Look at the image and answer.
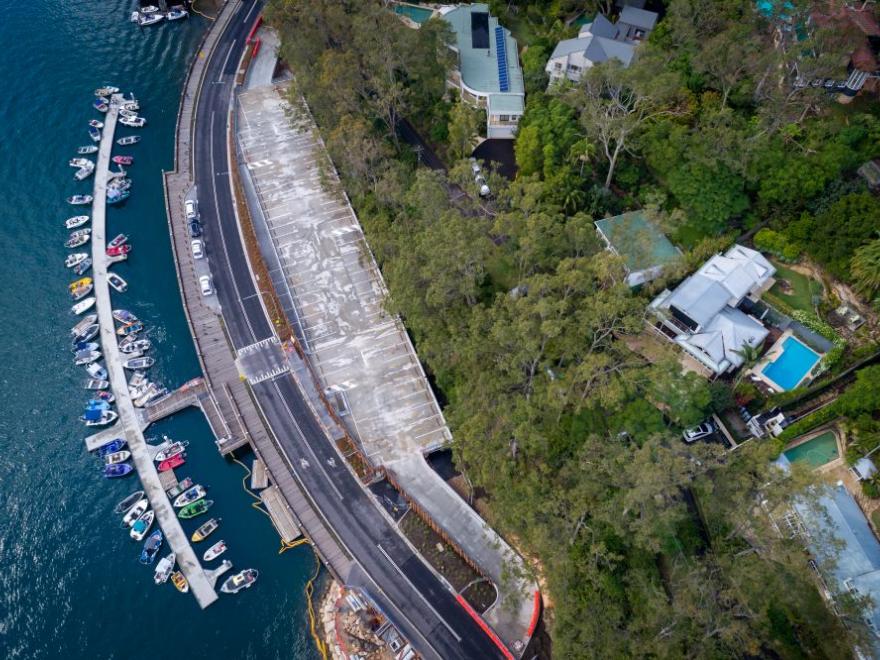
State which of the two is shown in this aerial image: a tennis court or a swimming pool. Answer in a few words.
swimming pool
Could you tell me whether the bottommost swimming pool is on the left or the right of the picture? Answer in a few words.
right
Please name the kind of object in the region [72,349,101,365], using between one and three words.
boat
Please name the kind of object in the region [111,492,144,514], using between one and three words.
boat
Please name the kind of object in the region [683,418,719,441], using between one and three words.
car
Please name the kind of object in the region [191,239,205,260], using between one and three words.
vehicle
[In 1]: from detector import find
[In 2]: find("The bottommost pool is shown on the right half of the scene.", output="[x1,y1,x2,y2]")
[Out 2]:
[776,419,848,478]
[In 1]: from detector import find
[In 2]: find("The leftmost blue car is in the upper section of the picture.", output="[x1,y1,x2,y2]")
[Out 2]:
[188,217,202,238]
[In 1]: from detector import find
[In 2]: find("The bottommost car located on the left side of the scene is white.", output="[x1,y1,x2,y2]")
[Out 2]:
[199,275,213,297]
